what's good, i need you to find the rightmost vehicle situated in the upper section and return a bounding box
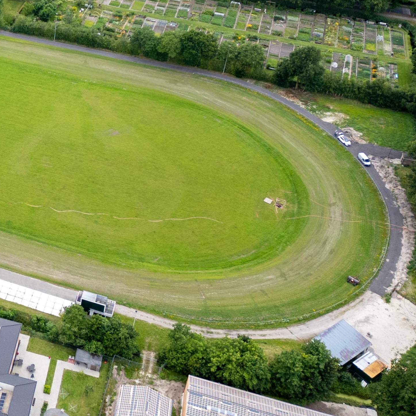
[356,148,371,167]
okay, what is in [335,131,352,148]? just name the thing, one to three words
car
